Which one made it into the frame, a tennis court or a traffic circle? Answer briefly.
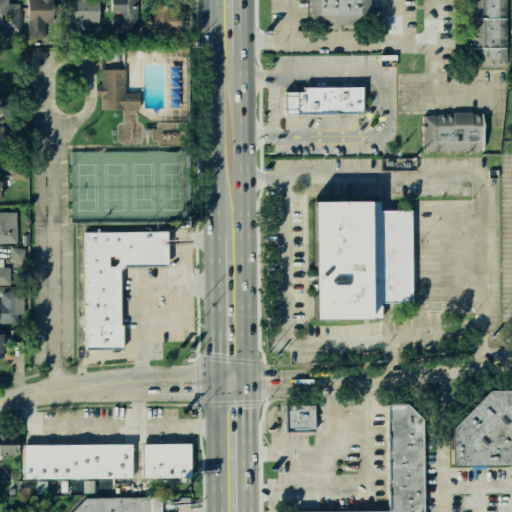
tennis court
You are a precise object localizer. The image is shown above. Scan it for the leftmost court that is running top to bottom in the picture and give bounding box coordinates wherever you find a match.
[74,156,101,219]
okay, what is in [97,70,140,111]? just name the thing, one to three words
house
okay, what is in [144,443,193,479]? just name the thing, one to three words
building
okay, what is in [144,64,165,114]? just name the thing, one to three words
swimming pool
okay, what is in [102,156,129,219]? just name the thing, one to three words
tennis court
